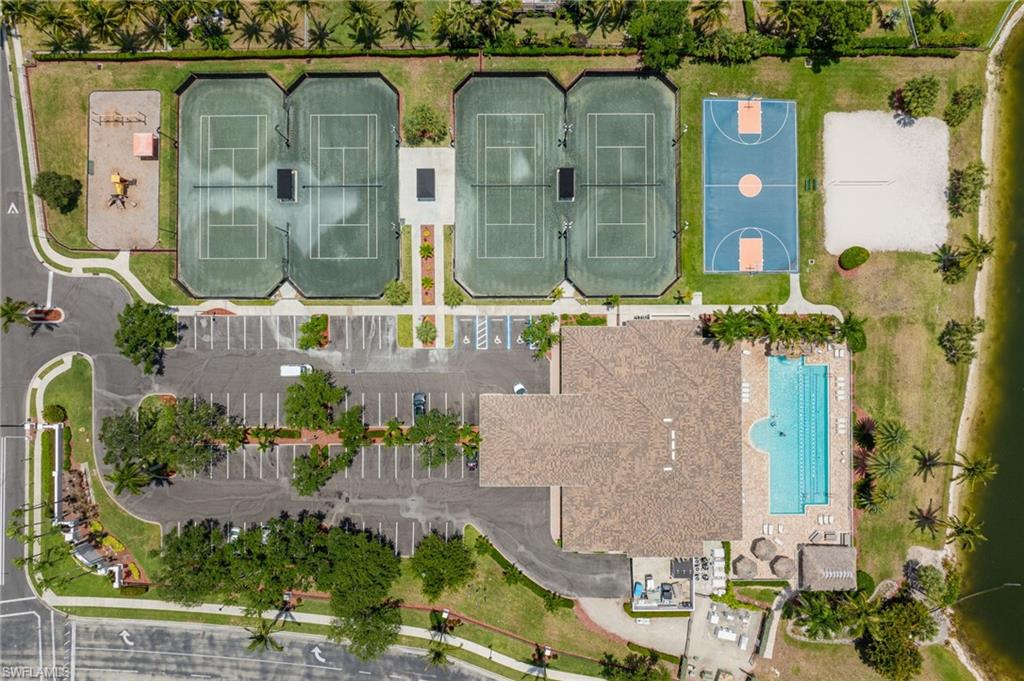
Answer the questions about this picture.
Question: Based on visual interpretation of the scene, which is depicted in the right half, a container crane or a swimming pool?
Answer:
swimming pool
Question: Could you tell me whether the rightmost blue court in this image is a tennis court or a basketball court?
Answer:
basketball court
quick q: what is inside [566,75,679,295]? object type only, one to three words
tennis court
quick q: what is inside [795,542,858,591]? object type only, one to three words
shed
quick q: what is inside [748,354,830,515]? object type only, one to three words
swimming pool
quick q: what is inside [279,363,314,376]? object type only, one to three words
vehicle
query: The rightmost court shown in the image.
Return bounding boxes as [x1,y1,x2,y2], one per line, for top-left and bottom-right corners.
[823,110,949,255]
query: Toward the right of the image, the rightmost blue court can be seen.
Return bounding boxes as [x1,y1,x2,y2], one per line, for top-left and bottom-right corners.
[704,99,799,273]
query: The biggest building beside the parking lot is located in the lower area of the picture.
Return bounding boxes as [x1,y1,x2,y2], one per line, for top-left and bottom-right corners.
[479,320,742,559]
